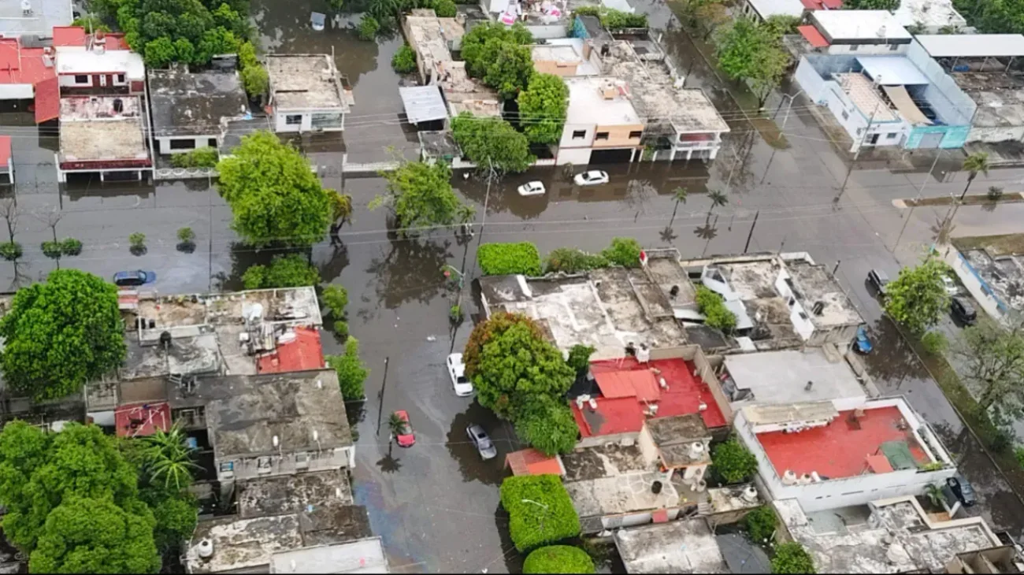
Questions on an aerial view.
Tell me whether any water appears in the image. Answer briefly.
Yes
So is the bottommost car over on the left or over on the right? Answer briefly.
right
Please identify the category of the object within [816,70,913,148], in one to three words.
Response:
house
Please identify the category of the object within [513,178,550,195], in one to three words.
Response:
car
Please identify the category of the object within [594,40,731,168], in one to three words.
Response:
house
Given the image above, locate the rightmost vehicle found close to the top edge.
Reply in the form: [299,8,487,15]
[310,10,325,29]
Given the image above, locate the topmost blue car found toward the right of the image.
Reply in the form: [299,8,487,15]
[856,329,875,356]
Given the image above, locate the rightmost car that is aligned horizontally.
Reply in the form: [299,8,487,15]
[574,169,610,184]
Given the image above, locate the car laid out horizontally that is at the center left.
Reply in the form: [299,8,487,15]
[113,267,158,284]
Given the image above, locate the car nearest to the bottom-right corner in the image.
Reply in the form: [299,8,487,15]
[948,472,980,509]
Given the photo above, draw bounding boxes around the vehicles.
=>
[948,293,978,324]
[948,472,980,509]
[72,0,83,19]
[310,10,325,29]
[574,169,610,184]
[513,178,550,195]
[448,357,472,392]
[856,329,875,356]
[113,267,158,284]
[393,412,417,445]
[866,266,895,297]
[465,421,498,459]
